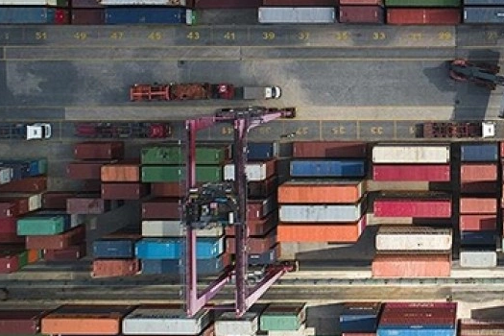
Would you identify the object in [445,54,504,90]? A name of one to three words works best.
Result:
work vehicle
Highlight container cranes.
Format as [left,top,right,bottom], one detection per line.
[170,106,295,322]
